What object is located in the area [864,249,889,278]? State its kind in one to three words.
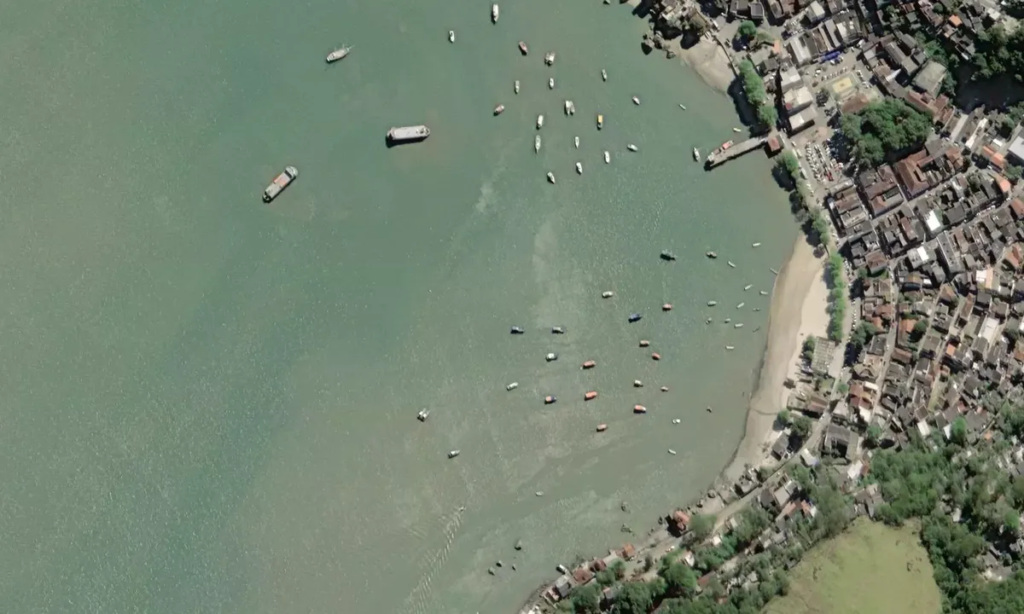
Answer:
building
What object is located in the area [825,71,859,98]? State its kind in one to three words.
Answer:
sports court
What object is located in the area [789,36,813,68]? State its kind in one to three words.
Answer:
building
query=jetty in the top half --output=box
[710,135,768,169]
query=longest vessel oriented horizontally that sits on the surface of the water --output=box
[387,127,429,141]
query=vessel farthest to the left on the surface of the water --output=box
[263,167,297,201]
